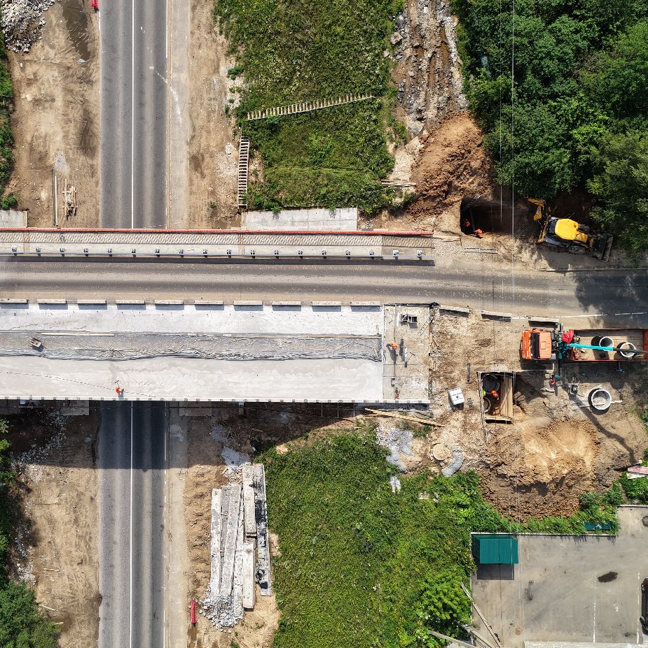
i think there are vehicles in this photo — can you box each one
[639,577,648,635]
[520,319,648,381]
[514,195,597,260]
